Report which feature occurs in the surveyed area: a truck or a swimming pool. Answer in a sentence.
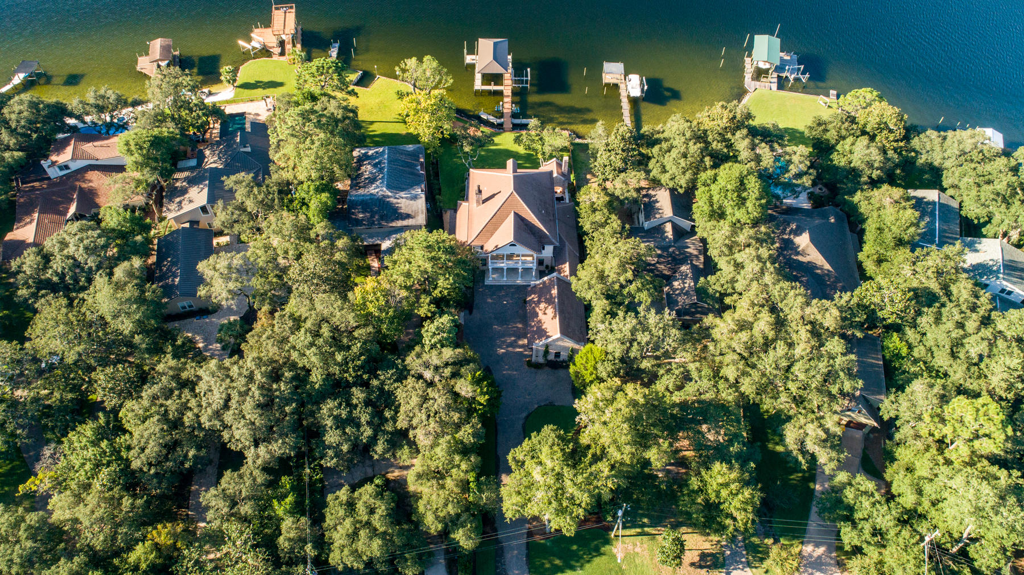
Of the two, only a swimming pool appears.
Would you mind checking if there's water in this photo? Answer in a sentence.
Yes, the picture does contain water.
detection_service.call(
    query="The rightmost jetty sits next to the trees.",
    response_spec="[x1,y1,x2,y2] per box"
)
[603,51,632,129]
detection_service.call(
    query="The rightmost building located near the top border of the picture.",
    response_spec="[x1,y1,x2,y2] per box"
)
[743,20,799,92]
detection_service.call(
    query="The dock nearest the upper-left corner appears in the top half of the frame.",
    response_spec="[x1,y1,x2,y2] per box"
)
[238,0,303,64]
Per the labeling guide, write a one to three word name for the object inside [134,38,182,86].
building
